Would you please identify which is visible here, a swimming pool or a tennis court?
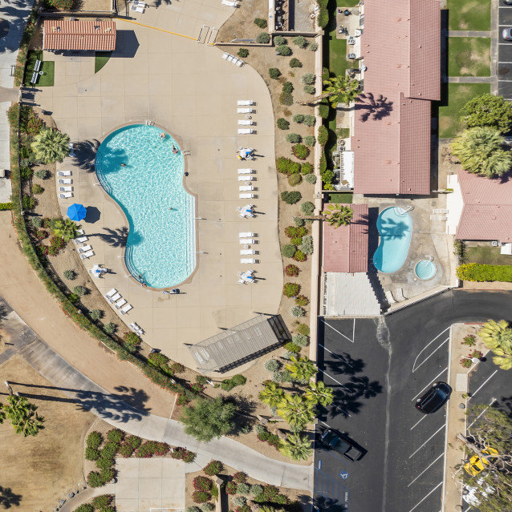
swimming pool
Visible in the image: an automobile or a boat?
automobile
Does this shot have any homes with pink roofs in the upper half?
Yes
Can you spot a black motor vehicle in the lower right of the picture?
Yes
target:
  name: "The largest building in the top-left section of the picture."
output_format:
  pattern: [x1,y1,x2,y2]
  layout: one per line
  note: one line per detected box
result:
[43,19,116,54]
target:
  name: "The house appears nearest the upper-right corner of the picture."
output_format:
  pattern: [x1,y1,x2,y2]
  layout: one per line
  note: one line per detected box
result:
[356,0,441,100]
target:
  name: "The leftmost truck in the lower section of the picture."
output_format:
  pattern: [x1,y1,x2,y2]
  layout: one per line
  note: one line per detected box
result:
[318,427,368,468]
